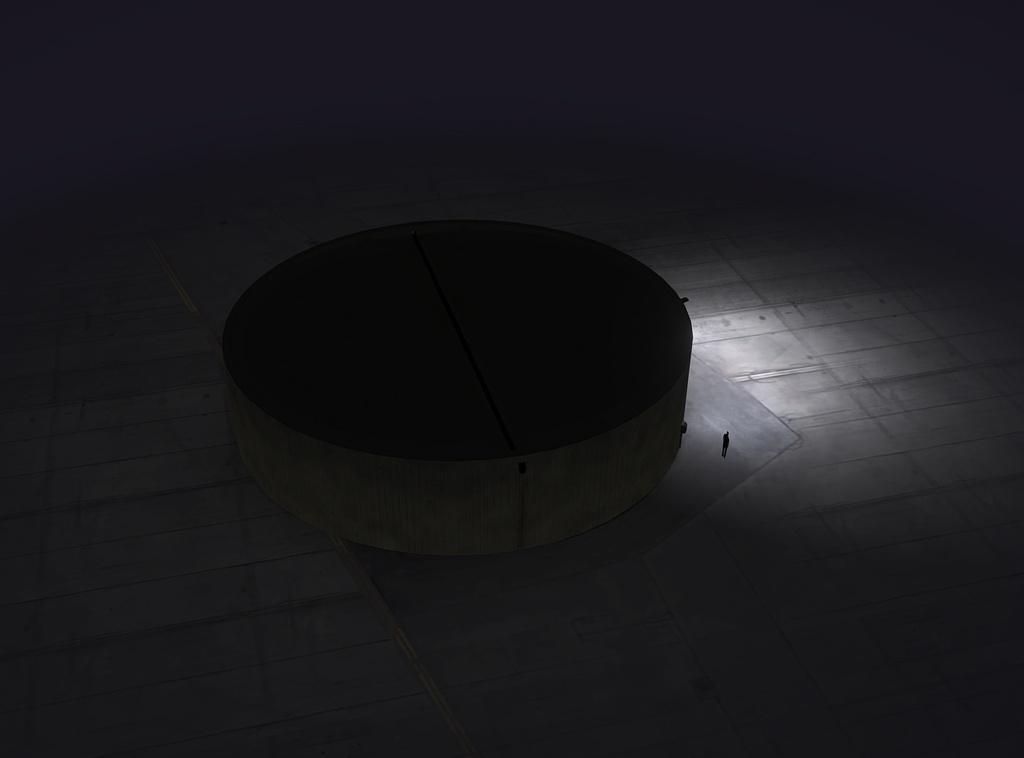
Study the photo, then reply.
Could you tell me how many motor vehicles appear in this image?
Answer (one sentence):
There are no motor vehicles in the image.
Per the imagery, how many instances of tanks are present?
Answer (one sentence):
My tally gives 1 tank in this photo.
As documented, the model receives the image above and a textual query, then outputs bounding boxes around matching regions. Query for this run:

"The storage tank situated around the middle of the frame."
[222,221,693,555]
